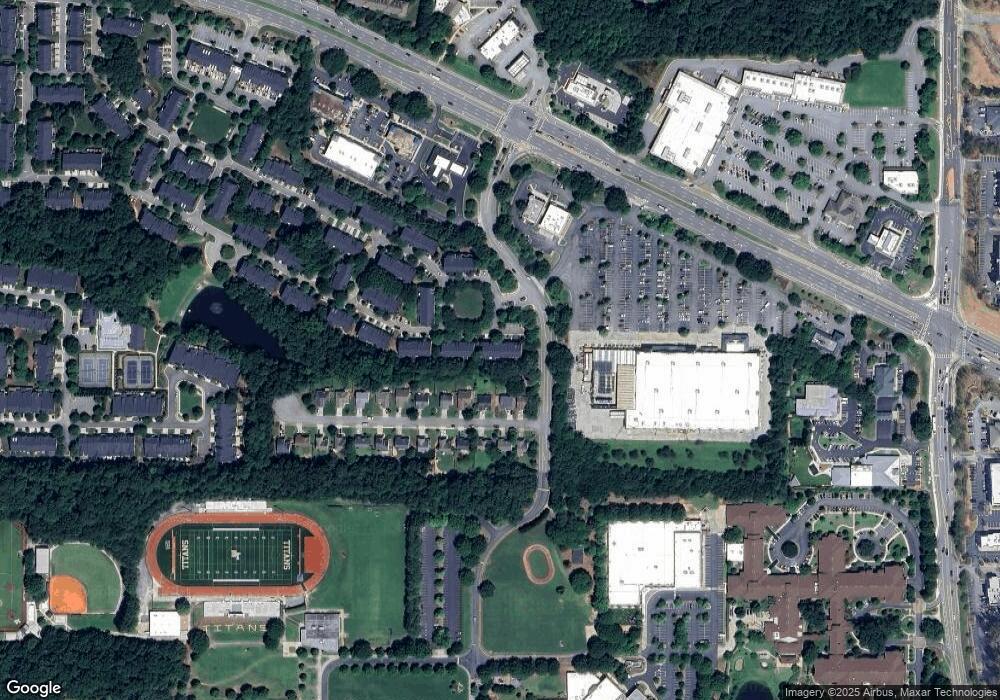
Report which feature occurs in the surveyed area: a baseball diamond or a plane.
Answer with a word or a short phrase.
baseball diamond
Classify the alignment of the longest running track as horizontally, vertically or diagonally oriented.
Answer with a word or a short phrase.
horizontally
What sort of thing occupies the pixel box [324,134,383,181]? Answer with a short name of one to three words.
building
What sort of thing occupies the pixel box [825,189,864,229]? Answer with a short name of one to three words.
building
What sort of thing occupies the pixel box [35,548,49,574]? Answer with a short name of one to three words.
shed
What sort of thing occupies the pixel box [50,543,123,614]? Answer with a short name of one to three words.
baseball field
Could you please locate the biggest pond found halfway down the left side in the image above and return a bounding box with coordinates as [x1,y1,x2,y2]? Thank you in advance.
[181,287,285,358]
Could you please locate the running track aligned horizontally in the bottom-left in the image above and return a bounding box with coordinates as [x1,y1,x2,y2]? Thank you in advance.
[146,512,331,597]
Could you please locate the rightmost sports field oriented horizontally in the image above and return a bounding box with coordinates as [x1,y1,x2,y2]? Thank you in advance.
[156,522,315,586]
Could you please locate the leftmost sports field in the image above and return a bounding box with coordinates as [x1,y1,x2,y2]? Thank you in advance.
[0,520,24,625]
